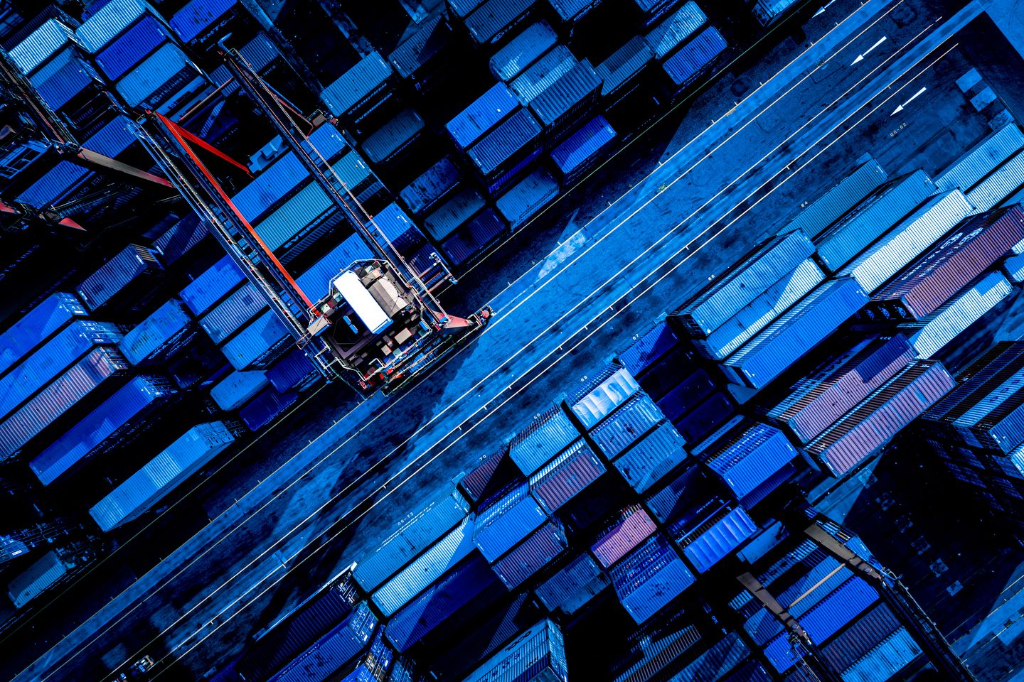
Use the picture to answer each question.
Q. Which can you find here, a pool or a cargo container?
cargo container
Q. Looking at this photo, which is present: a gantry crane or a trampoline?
gantry crane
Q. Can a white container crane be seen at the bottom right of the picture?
No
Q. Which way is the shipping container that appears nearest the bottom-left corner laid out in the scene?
on a diagonal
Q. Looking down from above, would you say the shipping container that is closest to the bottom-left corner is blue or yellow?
blue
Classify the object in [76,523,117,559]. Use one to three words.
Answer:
work vehicle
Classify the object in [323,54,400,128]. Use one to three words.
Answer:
shipping container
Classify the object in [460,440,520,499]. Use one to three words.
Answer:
shipping container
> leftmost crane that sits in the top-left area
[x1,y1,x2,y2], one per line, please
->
[0,0,221,253]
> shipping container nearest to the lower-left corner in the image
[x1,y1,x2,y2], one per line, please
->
[4,544,82,609]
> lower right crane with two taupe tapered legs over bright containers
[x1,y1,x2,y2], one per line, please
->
[677,471,993,682]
